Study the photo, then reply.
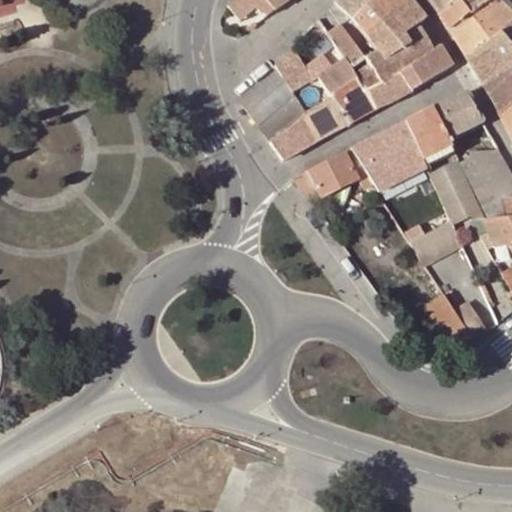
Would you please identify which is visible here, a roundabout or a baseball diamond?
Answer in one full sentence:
The one in the frame is a roundabout.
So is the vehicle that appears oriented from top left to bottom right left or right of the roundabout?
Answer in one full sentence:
To the right of the roundabout is where the vehicle that appears oriented from top left to bottom right appears.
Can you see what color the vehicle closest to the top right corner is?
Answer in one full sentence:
The color of the vehicle closest to the top right corner is white.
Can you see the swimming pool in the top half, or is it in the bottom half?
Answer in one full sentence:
It is in the top half that the swimming pool appears.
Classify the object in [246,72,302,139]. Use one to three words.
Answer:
shed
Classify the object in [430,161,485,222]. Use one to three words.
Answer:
barn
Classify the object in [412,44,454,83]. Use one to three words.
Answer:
house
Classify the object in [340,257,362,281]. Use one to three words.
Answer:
vehicle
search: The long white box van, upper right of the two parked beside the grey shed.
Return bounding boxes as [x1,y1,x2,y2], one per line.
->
[248,58,275,83]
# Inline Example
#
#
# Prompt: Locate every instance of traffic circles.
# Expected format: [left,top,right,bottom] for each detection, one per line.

[114,242,298,426]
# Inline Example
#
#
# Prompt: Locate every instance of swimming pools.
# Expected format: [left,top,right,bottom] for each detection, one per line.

[300,86,320,106]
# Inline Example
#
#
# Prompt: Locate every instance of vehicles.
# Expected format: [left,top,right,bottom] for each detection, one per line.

[230,196,240,216]
[141,315,152,338]
[340,257,362,281]
[248,58,275,83]
[230,78,252,98]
